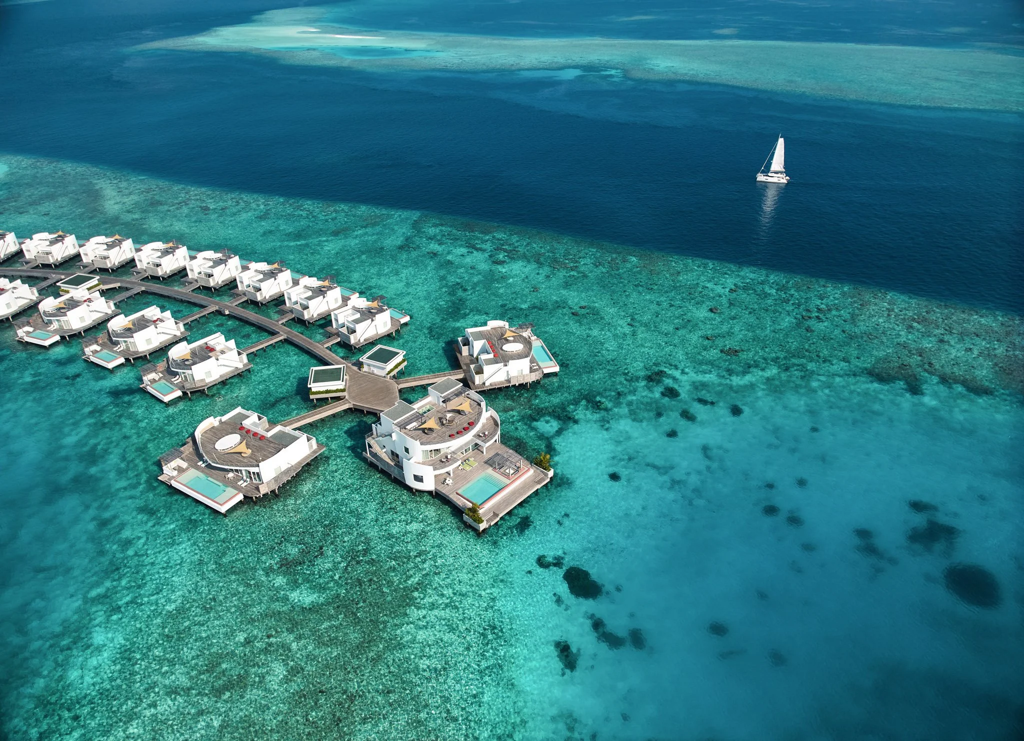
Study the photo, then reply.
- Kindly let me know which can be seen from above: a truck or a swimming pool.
swimming pool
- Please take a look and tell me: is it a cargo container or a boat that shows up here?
boat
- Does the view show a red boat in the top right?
No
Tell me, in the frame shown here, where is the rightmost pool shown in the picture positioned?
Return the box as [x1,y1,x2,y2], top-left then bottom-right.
[530,337,560,374]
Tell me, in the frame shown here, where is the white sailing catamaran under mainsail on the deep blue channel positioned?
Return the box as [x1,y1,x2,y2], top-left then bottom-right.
[755,132,792,184]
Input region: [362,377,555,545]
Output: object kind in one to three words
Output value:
house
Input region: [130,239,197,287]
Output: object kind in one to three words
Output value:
house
